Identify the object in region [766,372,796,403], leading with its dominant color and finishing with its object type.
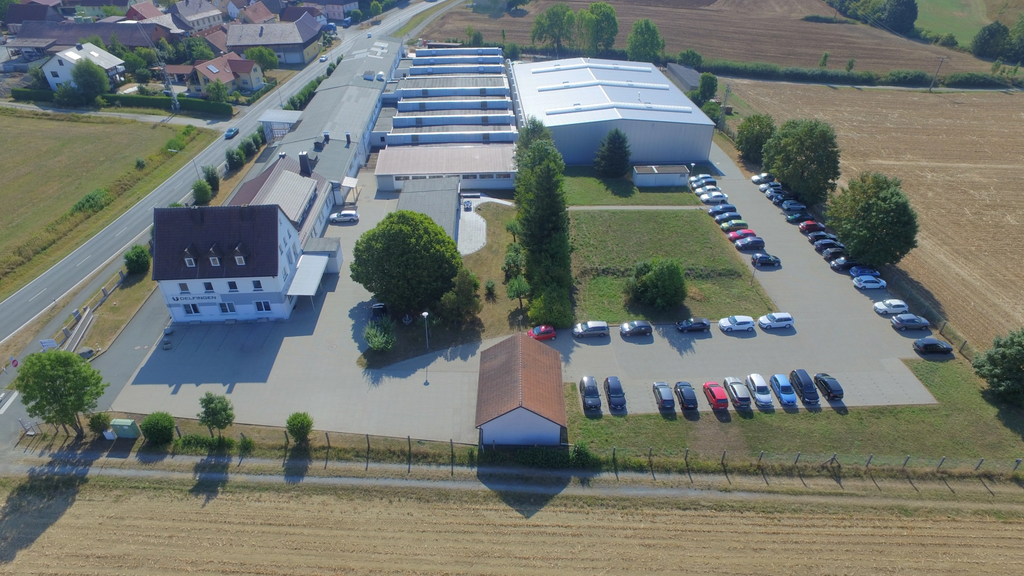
blue car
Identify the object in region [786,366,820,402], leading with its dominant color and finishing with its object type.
blue car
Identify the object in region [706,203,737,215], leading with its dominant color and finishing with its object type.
blue vehicle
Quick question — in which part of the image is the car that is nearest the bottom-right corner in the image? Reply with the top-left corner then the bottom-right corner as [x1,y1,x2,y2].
[909,337,951,354]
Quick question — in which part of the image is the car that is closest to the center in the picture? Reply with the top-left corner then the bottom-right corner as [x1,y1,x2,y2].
[526,323,557,340]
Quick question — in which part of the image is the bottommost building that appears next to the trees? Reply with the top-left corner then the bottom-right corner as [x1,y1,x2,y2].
[475,320,574,452]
